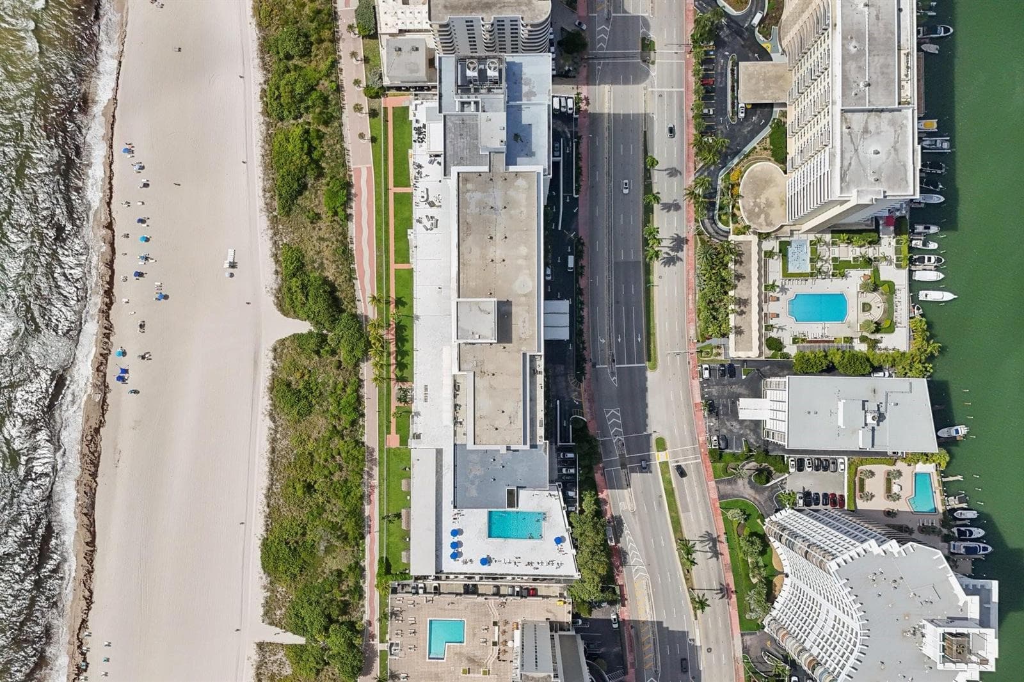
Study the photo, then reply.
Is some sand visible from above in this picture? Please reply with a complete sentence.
Yes, sand shows up in the scene.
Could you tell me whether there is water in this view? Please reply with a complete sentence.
Yes, the picture does contain water.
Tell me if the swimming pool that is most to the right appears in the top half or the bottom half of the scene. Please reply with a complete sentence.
It is in the bottom half that the swimming pool that is most to the right appears.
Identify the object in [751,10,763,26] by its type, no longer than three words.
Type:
vehicle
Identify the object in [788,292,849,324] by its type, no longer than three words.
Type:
swimming pool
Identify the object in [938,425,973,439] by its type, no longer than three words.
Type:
boat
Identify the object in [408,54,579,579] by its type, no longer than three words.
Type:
building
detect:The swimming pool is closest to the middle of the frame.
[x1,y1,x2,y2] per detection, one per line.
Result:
[486,509,545,540]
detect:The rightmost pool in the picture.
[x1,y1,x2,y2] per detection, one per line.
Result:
[906,471,938,514]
